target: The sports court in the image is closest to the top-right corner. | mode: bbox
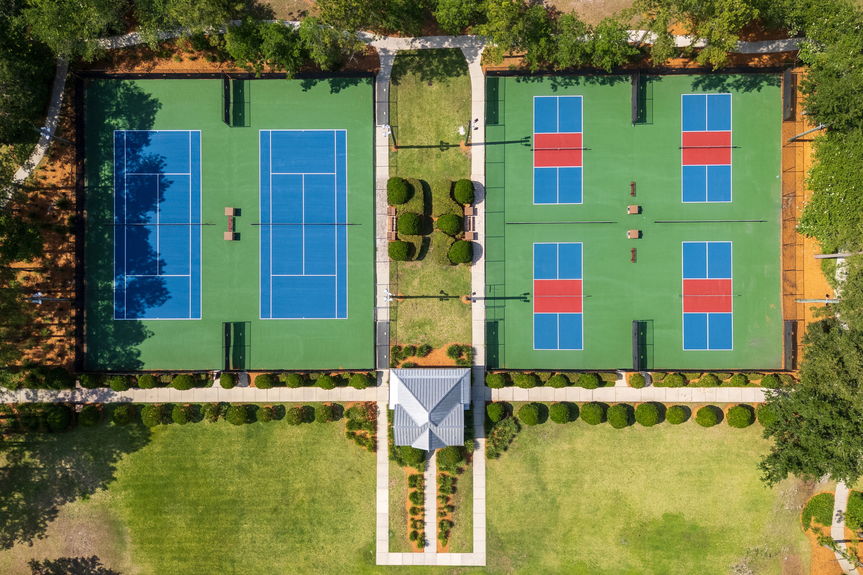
[682,94,732,202]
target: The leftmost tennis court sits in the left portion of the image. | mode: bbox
[113,130,201,320]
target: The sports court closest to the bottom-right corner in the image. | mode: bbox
[683,241,733,351]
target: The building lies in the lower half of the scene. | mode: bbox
[388,368,470,451]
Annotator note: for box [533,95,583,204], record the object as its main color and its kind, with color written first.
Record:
blue sports court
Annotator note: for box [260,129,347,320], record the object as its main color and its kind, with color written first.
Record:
blue tennis court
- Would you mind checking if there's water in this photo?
No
